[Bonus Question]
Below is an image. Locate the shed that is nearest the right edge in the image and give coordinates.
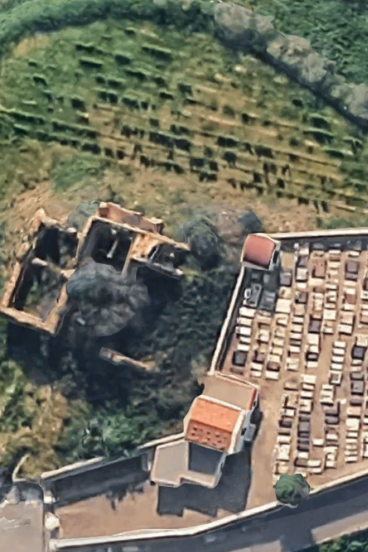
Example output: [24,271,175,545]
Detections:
[241,233,284,270]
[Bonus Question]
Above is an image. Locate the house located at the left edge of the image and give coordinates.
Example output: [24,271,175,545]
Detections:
[0,209,100,335]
